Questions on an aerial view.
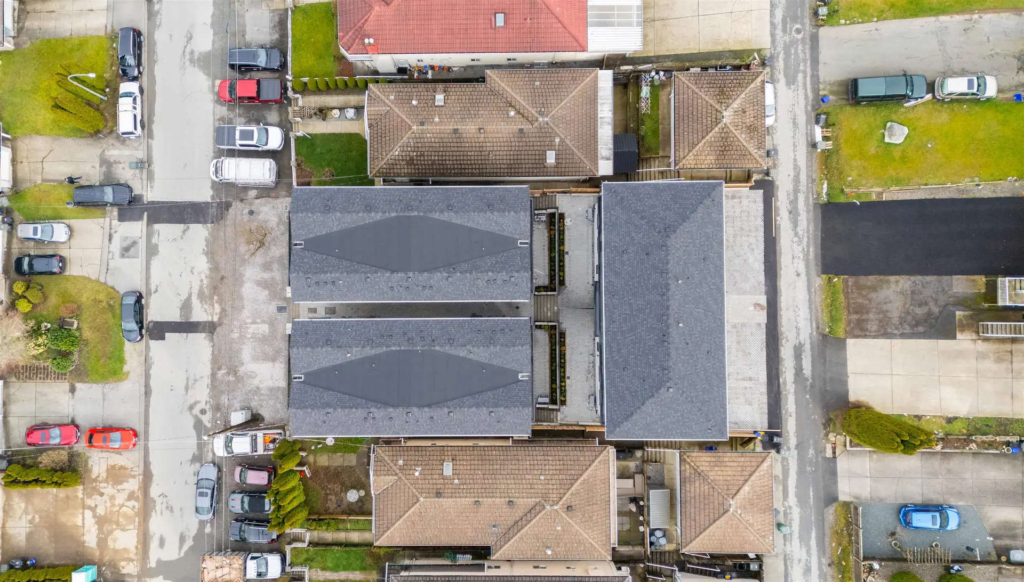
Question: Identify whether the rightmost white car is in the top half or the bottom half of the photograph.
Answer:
top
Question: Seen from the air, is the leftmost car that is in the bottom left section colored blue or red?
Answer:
red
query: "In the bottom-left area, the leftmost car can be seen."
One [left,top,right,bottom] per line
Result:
[25,424,81,449]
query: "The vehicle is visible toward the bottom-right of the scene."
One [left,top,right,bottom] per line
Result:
[897,503,959,533]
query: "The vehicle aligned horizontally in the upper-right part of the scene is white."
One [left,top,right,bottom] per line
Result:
[931,72,996,101]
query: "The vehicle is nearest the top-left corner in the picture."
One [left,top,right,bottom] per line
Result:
[116,25,145,80]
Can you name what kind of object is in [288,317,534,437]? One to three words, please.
house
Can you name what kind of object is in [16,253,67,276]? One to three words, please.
car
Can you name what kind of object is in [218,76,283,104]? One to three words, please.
truck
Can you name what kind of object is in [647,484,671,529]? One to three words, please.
shed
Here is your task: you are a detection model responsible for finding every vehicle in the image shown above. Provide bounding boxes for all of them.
[16,253,67,276]
[235,464,277,487]
[85,427,139,452]
[231,491,278,516]
[212,157,277,184]
[230,518,282,544]
[931,72,996,101]
[113,82,145,137]
[767,75,781,132]
[897,503,959,533]
[218,76,283,104]
[116,25,145,80]
[215,432,285,459]
[227,45,285,72]
[17,220,72,245]
[846,70,926,103]
[193,462,221,520]
[25,424,81,449]
[216,123,284,150]
[71,181,135,207]
[119,290,147,342]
